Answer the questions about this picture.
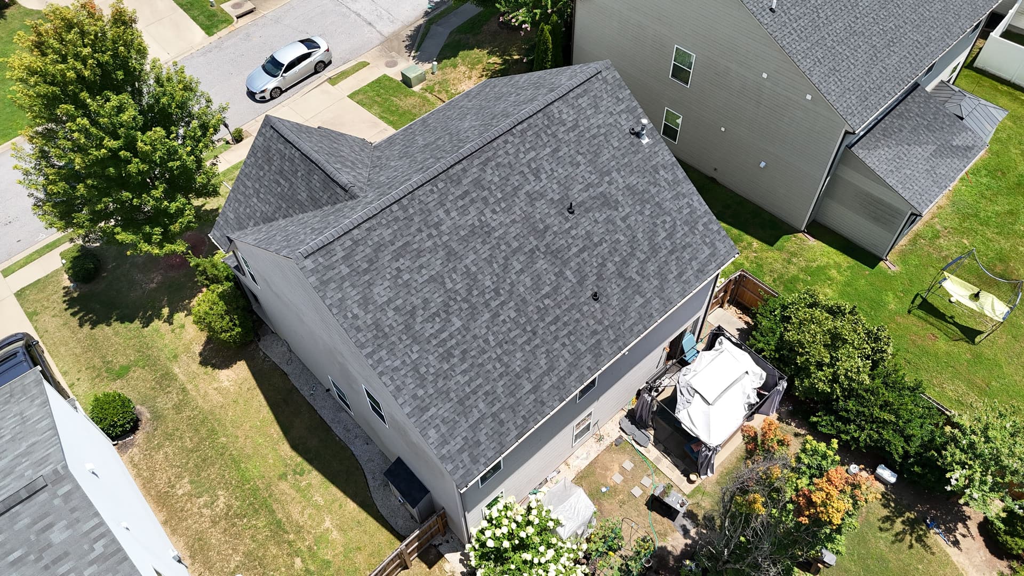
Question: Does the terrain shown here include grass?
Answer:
Yes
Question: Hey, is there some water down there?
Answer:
No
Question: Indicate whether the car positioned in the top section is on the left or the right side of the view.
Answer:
left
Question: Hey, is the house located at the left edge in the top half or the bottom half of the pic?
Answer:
bottom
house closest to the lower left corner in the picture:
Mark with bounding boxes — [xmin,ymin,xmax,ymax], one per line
[0,365,192,576]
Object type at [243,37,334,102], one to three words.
car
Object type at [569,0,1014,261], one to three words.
house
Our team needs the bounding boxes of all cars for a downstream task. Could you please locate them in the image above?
[243,37,334,102]
[0,333,68,400]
